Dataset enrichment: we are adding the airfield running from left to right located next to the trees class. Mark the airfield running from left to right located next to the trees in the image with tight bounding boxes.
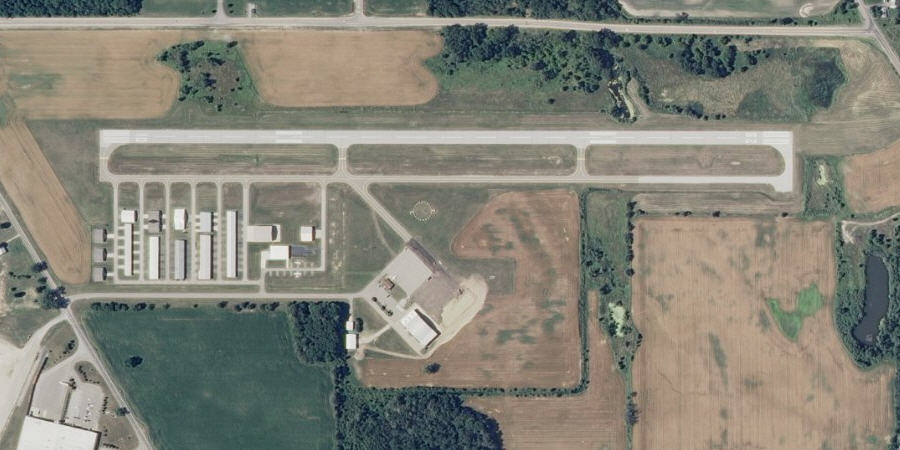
[99,129,793,356]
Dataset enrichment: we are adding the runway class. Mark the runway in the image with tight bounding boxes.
[99,129,793,145]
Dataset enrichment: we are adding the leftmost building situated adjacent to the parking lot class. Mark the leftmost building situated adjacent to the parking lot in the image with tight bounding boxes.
[17,417,98,450]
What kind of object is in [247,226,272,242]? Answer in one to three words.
hangar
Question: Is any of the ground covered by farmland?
Yes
